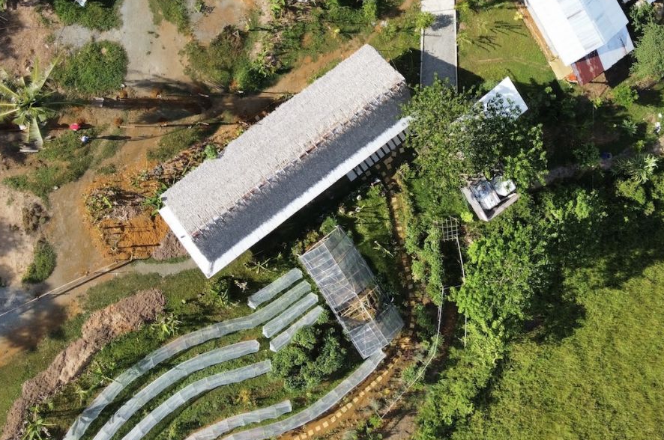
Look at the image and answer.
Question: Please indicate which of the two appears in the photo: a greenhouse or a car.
greenhouse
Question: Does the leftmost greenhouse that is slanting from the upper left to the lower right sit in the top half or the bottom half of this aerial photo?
bottom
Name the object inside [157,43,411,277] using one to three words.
house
